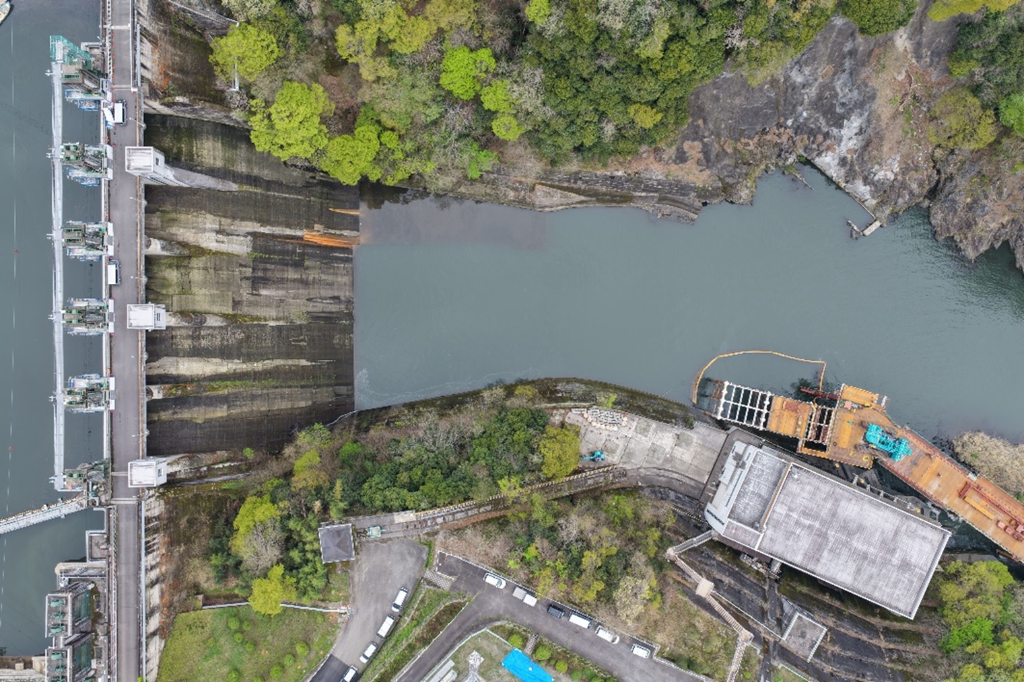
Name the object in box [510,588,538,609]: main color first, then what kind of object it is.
white truck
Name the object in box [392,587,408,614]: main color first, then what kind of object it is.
white car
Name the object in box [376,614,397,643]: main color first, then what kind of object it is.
white vehicle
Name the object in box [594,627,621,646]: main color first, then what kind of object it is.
white car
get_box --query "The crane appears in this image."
[855,417,912,462]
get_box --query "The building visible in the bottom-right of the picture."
[698,441,953,621]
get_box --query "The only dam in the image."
[94,0,361,682]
